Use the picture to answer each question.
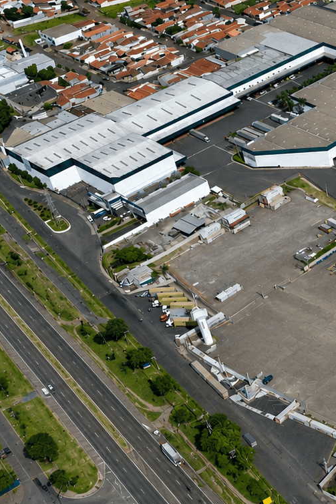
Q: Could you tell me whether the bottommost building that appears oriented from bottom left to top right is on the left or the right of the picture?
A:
right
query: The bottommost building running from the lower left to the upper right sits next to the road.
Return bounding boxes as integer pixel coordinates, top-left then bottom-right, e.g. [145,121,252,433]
[274,399,300,428]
